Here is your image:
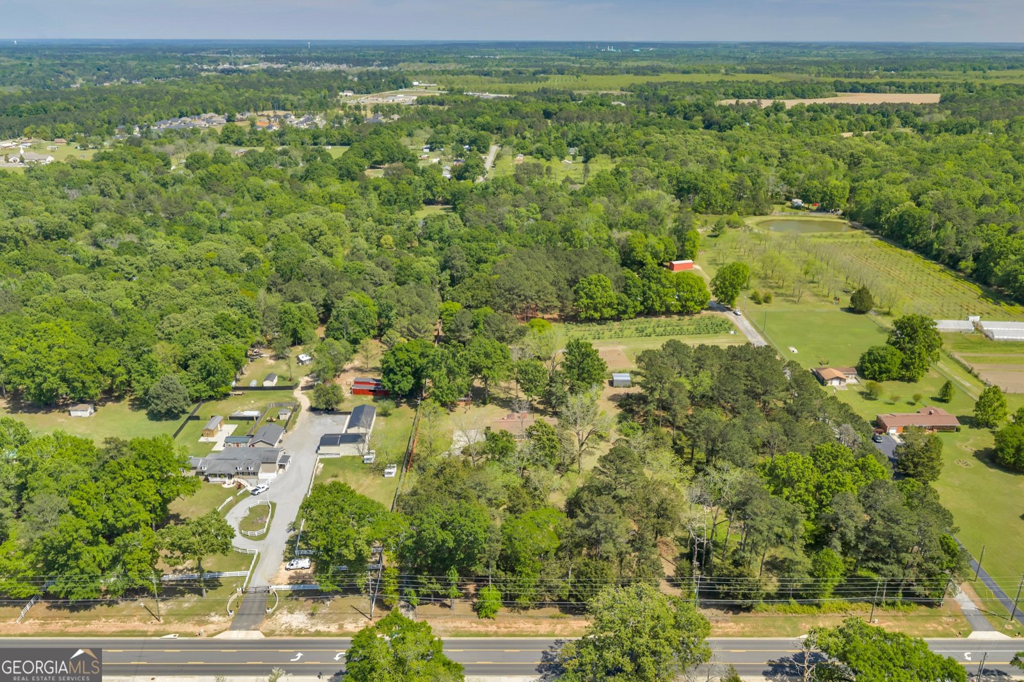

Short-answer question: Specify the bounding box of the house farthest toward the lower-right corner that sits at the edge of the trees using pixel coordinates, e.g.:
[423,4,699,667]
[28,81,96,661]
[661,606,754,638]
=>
[871,398,961,436]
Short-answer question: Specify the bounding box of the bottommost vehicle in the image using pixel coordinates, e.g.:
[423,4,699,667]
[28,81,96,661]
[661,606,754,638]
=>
[285,559,310,571]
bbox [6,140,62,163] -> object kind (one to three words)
building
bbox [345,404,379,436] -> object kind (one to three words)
building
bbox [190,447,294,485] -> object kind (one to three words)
house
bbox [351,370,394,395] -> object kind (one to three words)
barn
